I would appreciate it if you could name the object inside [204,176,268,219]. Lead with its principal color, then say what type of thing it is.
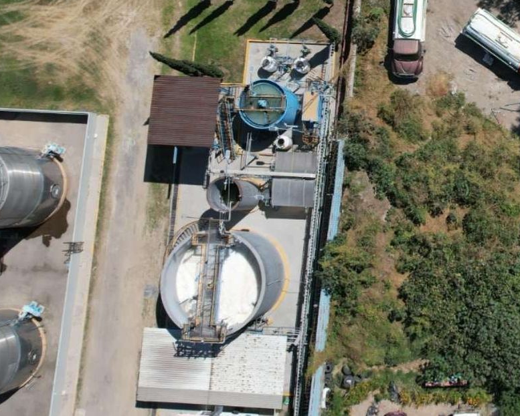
gray storage tank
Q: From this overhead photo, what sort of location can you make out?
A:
industrial area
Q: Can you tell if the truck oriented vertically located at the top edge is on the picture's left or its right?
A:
right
